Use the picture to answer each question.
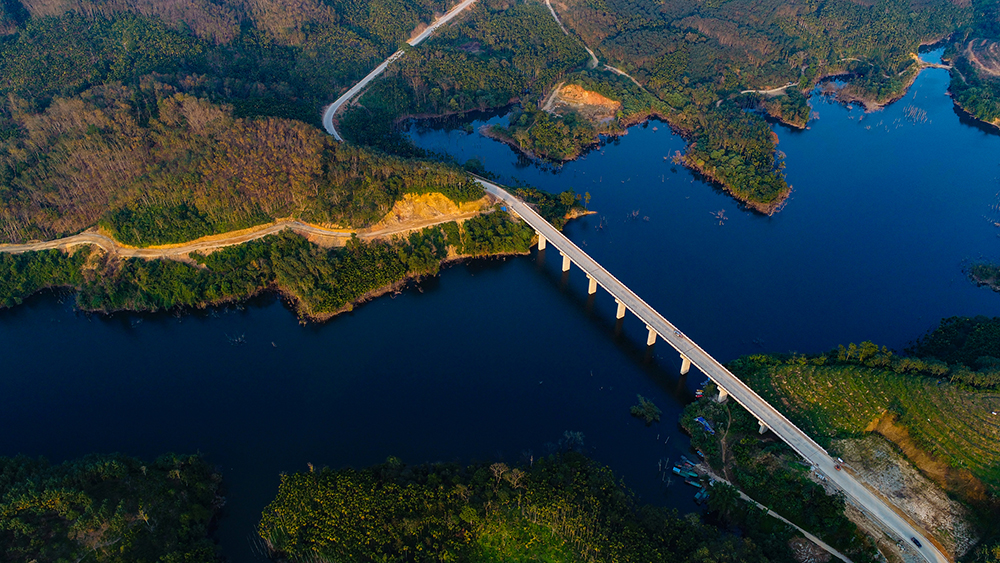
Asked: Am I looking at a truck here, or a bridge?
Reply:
bridge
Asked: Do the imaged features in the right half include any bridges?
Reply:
Yes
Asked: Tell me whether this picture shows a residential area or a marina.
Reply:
marina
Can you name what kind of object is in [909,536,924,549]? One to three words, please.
vehicle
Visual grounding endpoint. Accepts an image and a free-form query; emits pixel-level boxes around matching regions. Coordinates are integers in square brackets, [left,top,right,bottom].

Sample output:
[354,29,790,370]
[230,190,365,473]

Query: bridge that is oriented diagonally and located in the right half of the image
[509,204,841,476]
